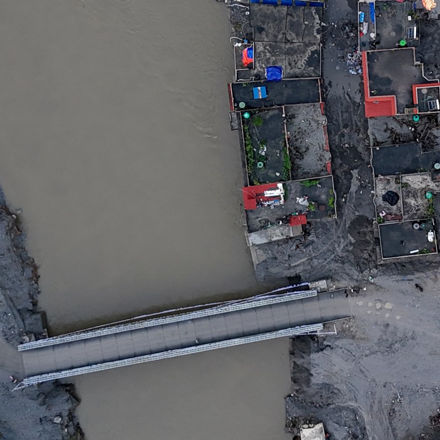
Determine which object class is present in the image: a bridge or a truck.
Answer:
bridge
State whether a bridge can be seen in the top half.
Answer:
No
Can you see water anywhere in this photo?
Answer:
Yes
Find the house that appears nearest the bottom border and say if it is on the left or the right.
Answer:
right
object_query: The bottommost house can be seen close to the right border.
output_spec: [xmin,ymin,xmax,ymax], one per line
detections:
[373,219,440,264]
